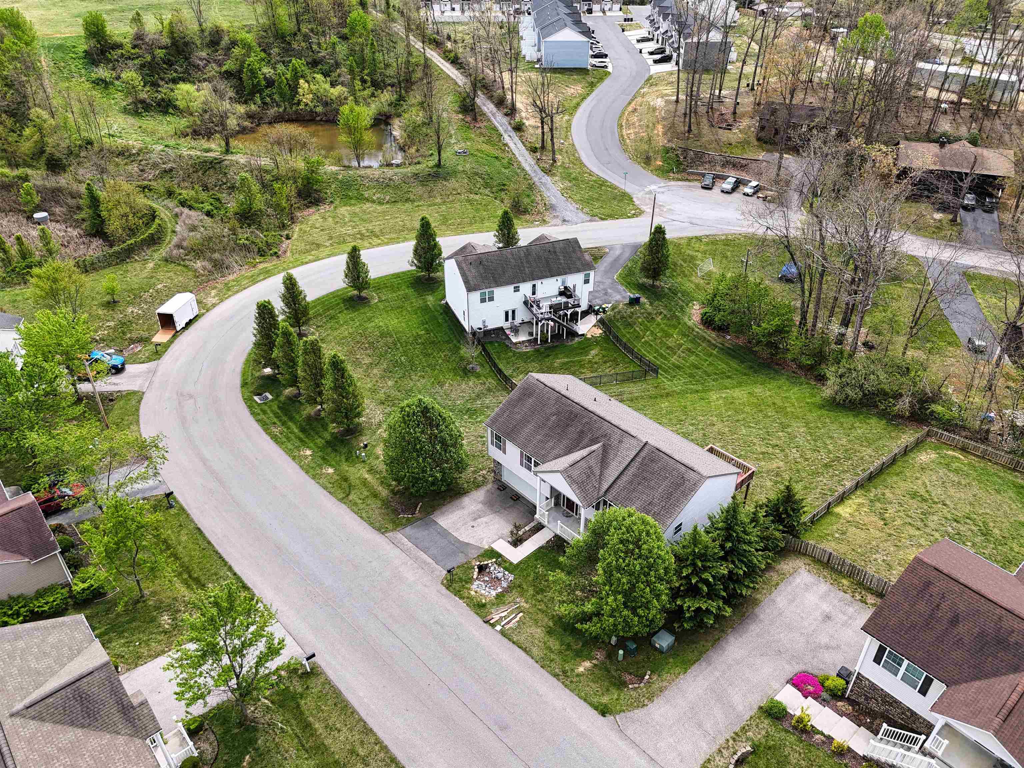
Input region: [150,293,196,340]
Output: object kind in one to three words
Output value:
trailer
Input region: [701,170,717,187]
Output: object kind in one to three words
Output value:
vehicle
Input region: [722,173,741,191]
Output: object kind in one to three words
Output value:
vehicle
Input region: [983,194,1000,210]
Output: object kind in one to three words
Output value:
car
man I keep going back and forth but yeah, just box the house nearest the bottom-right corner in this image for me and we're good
[846,535,1024,768]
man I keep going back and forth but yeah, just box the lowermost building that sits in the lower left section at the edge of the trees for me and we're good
[0,613,236,768]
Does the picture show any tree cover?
Yes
